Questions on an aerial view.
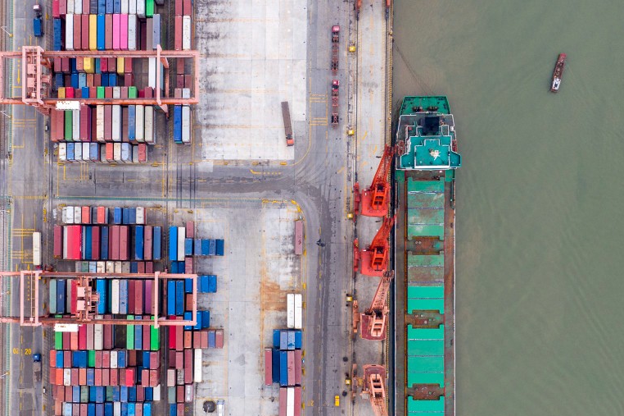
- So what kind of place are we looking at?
port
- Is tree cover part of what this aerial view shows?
No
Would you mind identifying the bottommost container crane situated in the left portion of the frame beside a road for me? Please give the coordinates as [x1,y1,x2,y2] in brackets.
[0,260,198,334]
